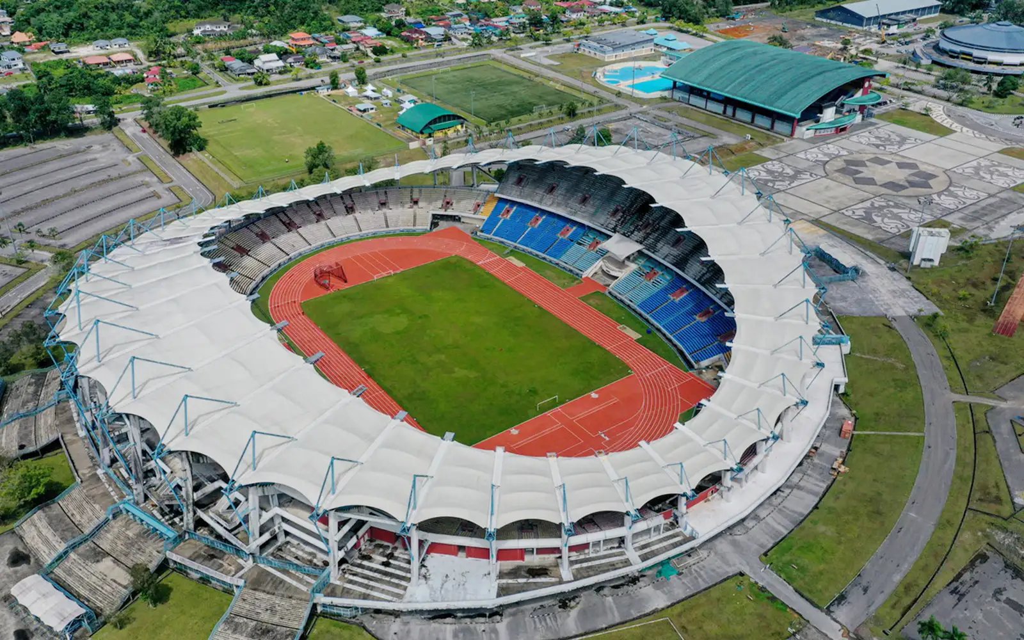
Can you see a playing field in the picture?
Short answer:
Yes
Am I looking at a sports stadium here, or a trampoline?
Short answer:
sports stadium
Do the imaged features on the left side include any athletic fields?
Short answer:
Yes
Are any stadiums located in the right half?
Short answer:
Yes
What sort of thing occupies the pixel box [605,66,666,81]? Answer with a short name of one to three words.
swimming pool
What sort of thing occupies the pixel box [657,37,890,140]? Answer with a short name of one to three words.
building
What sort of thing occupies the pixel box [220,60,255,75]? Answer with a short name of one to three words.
house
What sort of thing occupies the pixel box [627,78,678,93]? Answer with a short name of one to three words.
swimming pool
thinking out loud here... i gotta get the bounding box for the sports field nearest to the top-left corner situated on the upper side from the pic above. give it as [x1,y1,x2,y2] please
[194,95,406,182]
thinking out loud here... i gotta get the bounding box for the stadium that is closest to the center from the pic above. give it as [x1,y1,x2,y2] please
[44,125,862,619]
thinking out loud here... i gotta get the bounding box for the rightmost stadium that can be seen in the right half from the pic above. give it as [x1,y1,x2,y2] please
[893,17,1024,71]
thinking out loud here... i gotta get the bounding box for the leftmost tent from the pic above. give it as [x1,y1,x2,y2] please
[10,572,92,633]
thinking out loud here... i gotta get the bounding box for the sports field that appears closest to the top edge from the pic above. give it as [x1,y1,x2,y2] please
[403,63,587,123]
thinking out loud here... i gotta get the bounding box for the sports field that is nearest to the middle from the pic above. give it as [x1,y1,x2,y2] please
[302,255,632,448]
